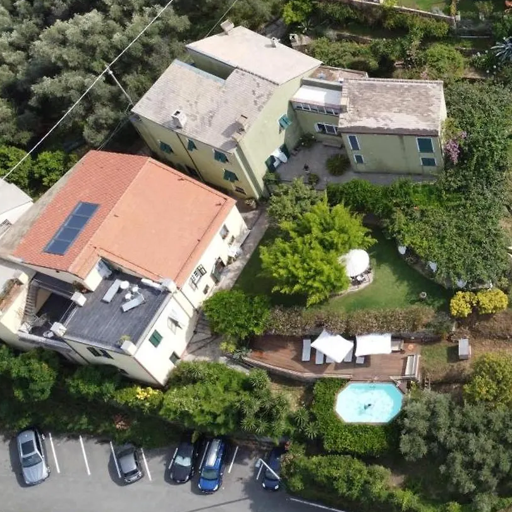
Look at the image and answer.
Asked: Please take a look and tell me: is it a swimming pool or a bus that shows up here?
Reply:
swimming pool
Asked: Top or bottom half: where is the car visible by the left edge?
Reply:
bottom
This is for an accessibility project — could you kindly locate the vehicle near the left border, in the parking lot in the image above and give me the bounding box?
[14,425,56,486]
